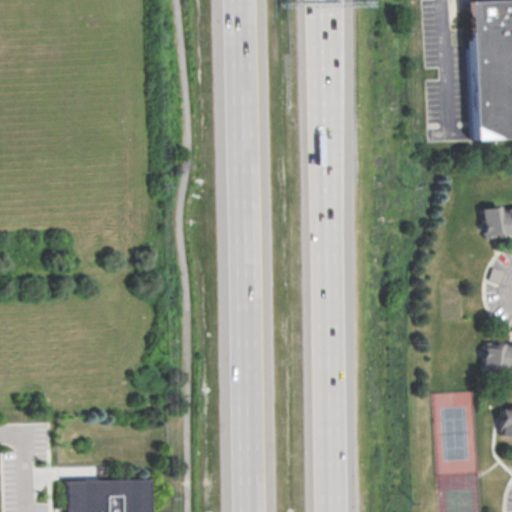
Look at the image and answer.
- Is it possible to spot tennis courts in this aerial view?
Yes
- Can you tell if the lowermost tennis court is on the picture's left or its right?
right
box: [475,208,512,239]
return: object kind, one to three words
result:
house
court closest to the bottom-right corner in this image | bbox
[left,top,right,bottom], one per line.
[436,474,482,512]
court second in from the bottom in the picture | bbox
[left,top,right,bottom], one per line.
[431,392,480,476]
